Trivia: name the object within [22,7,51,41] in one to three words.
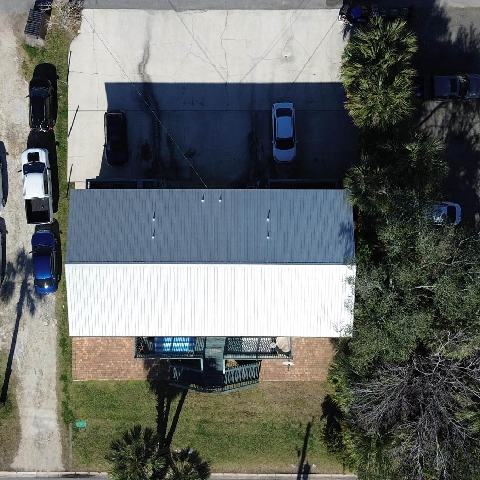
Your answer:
shed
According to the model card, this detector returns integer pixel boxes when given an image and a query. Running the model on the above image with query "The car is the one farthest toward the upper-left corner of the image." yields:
[23,76,56,133]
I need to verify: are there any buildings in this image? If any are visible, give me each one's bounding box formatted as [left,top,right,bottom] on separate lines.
[64,189,356,339]
[22,7,51,41]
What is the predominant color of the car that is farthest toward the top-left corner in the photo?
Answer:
black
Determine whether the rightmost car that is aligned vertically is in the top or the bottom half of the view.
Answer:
top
